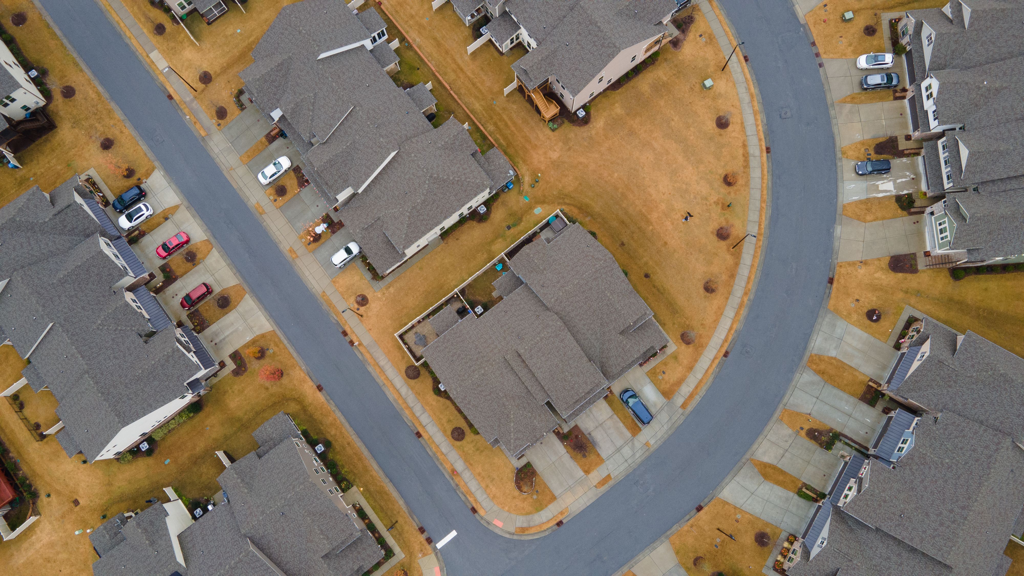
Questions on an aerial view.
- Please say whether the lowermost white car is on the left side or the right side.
left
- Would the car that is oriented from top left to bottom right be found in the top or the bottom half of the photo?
bottom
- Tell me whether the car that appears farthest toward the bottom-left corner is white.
No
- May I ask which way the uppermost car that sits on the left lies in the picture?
on a diagonal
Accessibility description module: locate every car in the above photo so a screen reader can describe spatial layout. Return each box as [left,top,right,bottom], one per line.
[155,231,193,261]
[854,159,892,176]
[179,281,215,310]
[854,52,895,72]
[859,72,900,92]
[619,387,656,429]
[117,202,156,231]
[258,157,293,185]
[673,0,697,17]
[329,242,362,269]
[112,185,149,213]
